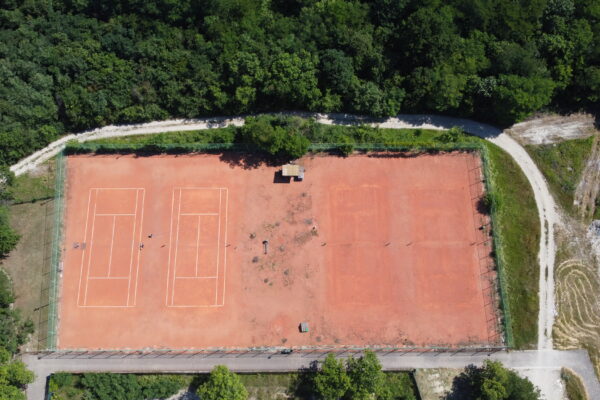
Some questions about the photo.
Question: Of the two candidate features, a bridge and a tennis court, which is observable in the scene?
tennis court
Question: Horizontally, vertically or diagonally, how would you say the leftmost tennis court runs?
vertically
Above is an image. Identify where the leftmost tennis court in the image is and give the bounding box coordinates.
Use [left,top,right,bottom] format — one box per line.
[73,179,149,317]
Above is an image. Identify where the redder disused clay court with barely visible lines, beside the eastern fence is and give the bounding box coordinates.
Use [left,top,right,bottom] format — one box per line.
[405,178,478,316]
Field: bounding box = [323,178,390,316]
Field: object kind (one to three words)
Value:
tennis court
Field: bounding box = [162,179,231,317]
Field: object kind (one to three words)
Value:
tennis court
